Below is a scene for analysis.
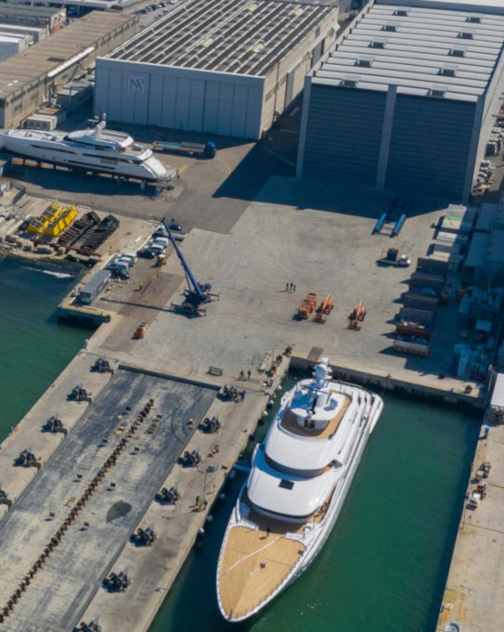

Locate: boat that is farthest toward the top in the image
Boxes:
[0,107,190,195]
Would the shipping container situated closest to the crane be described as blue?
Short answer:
No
